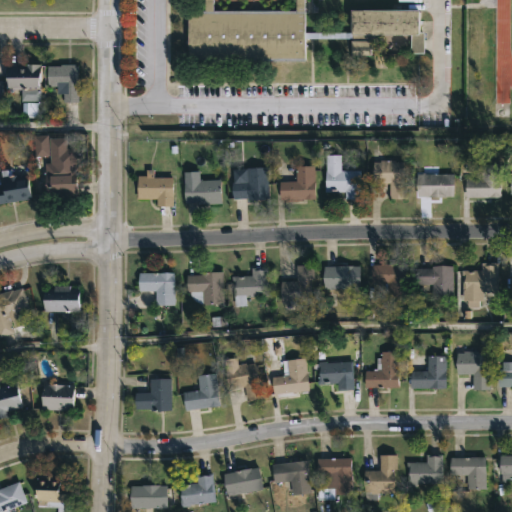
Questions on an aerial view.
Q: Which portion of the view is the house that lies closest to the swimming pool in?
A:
bottom left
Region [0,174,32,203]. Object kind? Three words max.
house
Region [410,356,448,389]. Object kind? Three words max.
house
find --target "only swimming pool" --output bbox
[38,356,55,380]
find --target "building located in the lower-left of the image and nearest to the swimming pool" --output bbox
[38,382,76,411]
